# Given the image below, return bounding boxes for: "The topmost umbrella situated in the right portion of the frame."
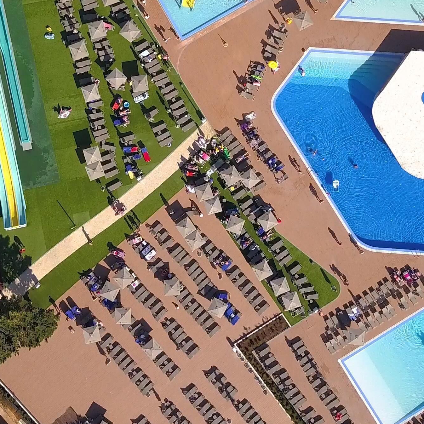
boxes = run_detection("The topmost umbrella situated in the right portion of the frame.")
[289,8,315,33]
